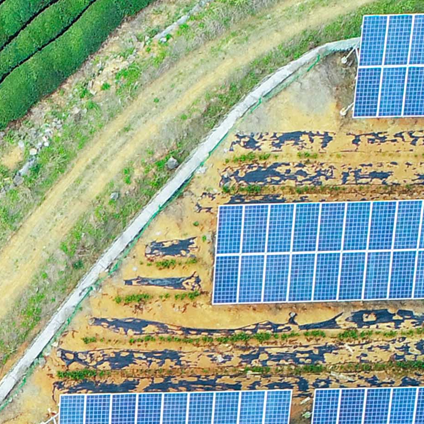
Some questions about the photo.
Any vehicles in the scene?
No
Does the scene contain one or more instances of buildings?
No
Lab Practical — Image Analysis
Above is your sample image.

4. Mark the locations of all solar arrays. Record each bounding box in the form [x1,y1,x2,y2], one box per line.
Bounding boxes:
[210,201,424,304]
[56,390,292,424]
[303,387,424,424]
[339,15,424,117]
